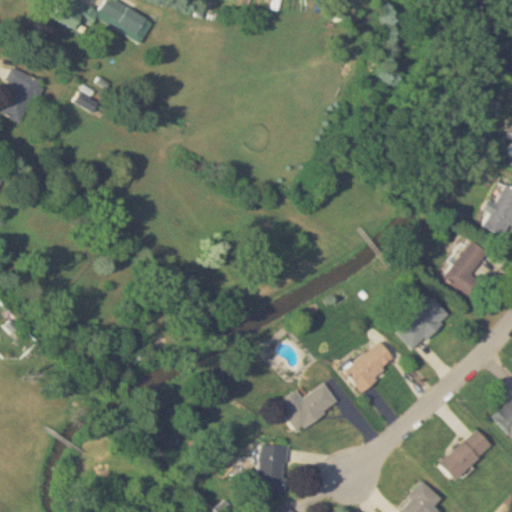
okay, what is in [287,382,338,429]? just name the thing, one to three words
house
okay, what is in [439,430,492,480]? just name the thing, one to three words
house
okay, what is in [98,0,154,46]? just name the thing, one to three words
barn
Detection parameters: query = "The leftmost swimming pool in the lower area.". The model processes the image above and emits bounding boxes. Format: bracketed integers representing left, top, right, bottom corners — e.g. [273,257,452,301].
[266,326,317,383]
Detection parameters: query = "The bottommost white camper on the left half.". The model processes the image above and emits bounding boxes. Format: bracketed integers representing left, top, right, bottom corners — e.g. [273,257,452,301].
[77,84,94,98]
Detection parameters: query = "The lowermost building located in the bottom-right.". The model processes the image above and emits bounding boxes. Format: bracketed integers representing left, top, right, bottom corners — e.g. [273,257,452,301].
[402,480,444,512]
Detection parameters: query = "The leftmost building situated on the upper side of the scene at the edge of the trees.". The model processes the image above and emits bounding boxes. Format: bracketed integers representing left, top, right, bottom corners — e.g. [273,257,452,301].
[1,68,44,124]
